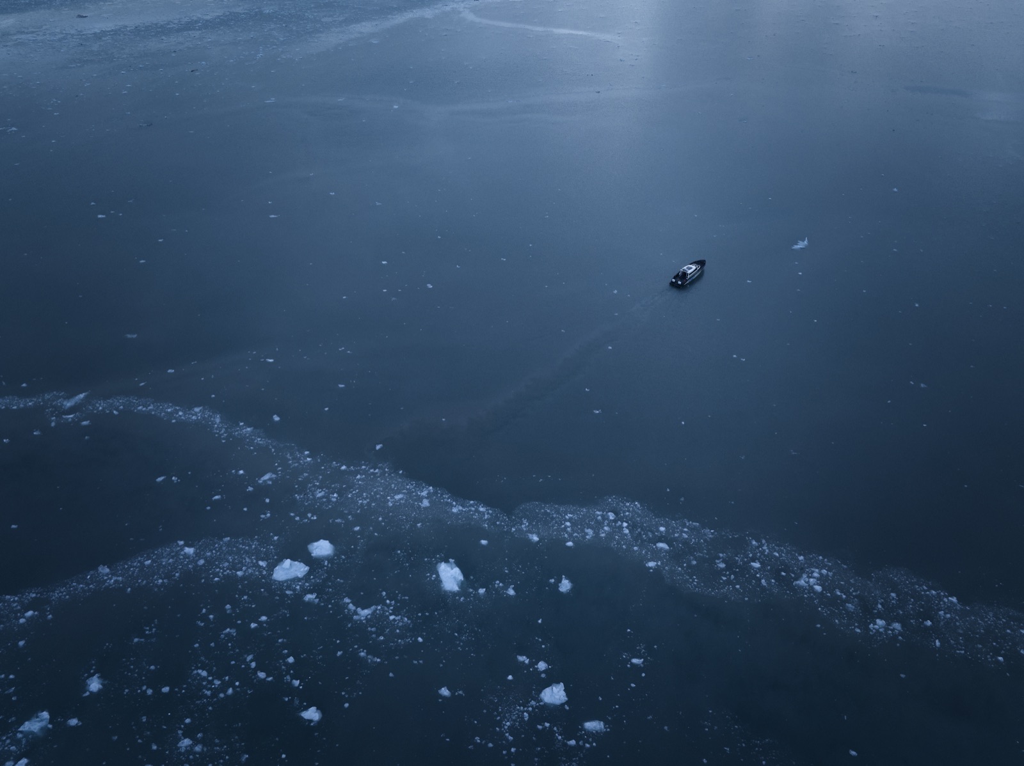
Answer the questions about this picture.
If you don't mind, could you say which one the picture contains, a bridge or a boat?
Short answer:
boat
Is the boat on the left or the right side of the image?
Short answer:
right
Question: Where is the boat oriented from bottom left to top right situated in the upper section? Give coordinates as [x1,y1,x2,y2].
[670,260,707,289]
